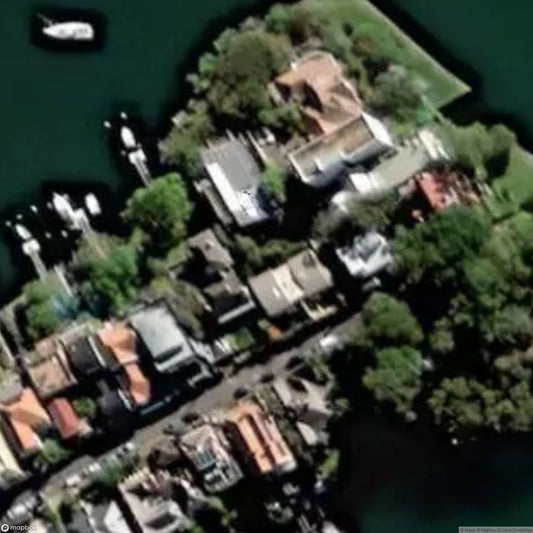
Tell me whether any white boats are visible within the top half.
Yes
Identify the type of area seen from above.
residential area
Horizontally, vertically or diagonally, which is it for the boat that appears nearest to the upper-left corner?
horizontally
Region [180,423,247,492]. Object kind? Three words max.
house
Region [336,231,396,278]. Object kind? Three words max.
house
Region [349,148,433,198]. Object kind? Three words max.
building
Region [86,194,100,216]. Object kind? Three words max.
boat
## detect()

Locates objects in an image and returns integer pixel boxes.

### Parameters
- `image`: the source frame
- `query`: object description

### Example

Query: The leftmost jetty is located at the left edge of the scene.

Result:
[22,239,48,280]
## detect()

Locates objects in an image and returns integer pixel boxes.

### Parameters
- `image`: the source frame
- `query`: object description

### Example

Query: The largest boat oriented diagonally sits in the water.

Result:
[54,194,76,222]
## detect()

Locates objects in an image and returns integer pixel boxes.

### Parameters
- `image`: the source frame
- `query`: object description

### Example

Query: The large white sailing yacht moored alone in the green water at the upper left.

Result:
[40,18,92,39]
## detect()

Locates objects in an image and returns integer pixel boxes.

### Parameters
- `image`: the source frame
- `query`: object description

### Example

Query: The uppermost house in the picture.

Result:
[268,50,363,132]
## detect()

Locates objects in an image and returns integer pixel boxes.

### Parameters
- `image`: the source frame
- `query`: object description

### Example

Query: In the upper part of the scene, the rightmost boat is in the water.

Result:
[122,128,136,148]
